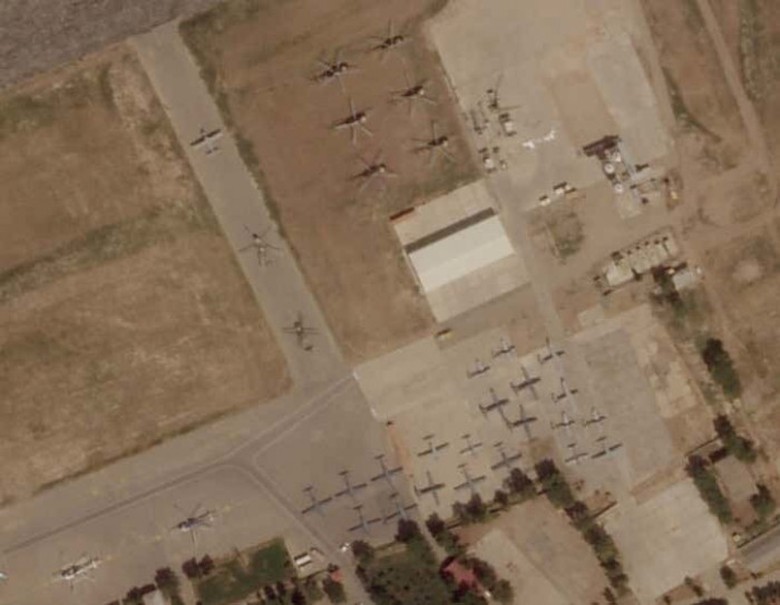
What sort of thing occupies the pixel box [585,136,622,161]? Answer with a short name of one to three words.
shed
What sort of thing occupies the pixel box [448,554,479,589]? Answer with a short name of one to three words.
house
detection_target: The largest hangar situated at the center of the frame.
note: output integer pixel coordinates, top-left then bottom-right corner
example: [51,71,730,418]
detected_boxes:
[409,216,515,292]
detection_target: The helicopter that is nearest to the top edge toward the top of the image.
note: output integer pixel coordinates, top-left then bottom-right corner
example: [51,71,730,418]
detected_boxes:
[366,21,412,61]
